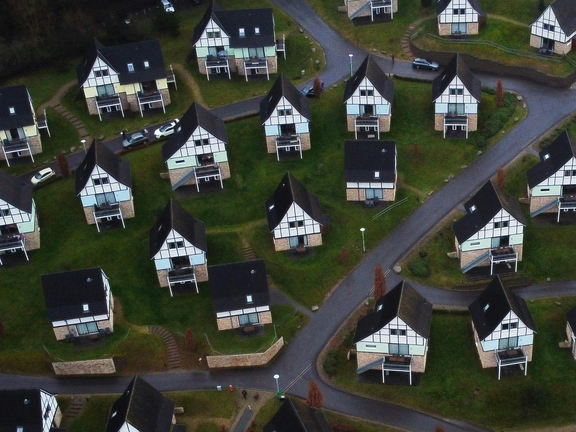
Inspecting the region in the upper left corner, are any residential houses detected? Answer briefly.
Yes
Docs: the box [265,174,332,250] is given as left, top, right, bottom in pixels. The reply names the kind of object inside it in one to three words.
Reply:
house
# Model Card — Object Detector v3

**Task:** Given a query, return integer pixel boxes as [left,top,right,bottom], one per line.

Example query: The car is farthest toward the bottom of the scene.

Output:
[29,168,56,184]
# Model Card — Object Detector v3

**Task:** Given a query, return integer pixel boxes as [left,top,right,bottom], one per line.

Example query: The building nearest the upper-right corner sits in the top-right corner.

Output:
[528,0,576,54]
